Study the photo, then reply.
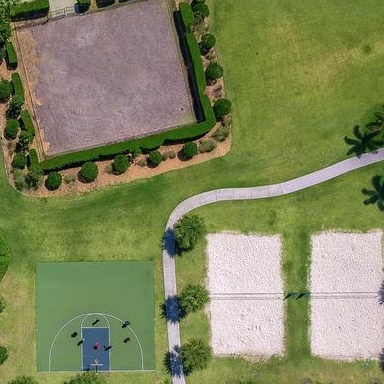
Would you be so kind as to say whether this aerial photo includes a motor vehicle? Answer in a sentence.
No, there's no motor vehicle here.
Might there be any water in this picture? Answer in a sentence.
No, water can't be seen anywhere here.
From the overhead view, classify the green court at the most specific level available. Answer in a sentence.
Specifically, the green court is a basketball court.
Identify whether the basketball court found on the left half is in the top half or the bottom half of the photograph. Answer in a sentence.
The basketball court found on the left half sits in the bottom half of the picture.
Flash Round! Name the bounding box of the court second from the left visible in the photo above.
[205,230,288,361]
